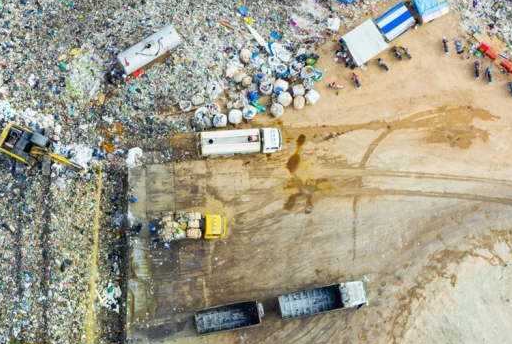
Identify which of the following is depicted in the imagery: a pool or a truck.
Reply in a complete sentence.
Visible in the photo is a truck.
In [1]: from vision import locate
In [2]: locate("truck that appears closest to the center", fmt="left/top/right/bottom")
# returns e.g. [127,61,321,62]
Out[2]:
[198,129,283,158]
